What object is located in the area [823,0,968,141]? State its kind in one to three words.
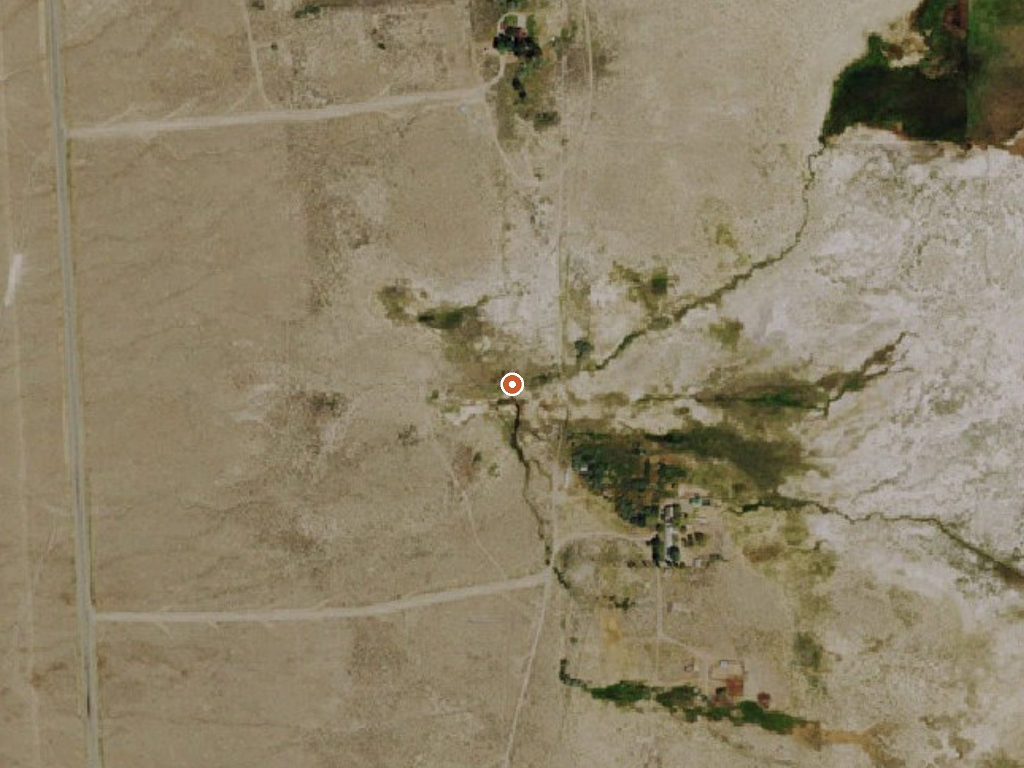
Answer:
pond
